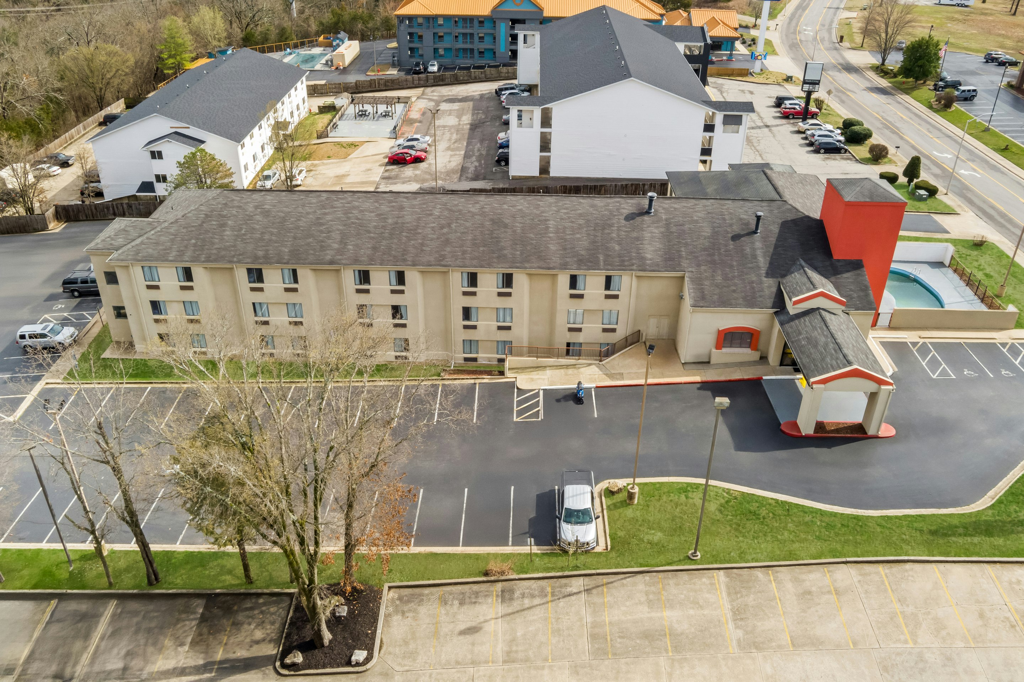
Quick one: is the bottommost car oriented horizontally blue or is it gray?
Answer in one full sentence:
The bottommost car oriented horizontally looks gray in the image.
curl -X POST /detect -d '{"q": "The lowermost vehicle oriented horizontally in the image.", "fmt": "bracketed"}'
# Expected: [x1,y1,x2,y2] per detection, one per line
[9,316,86,349]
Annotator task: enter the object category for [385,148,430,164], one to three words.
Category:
car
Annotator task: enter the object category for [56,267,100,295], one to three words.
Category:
car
